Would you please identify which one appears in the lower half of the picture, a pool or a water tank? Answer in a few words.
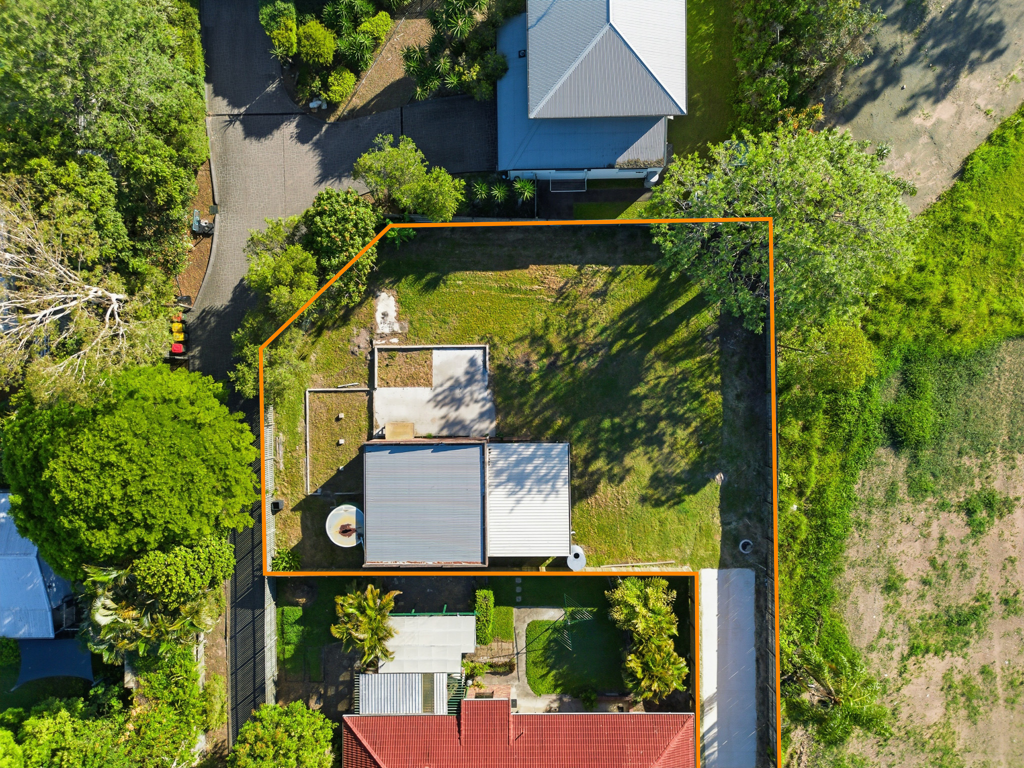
water tank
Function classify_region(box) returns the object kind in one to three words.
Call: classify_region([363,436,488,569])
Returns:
shed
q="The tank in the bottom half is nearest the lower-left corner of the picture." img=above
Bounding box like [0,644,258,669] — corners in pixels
[325,499,364,555]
